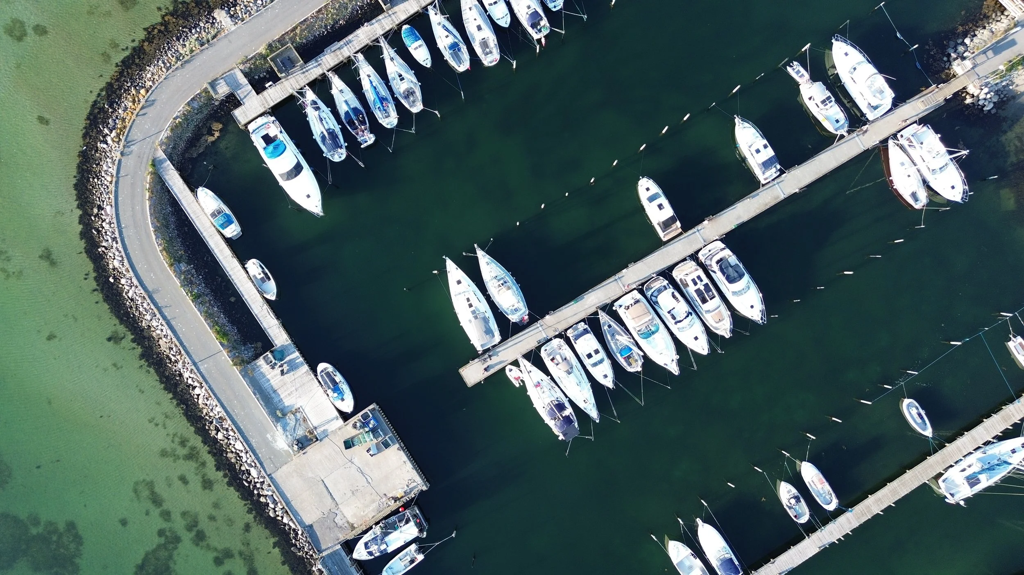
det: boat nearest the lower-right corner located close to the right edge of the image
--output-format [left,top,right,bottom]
[933,438,1024,508]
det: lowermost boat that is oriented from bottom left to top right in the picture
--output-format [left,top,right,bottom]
[378,544,424,575]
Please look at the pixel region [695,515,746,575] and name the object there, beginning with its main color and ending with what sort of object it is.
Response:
white boat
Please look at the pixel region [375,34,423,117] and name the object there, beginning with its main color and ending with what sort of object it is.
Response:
white boat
